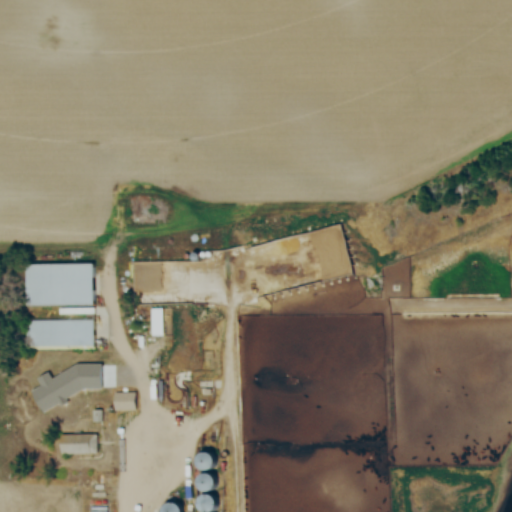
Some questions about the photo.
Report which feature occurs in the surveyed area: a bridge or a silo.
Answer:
silo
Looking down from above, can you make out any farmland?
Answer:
Yes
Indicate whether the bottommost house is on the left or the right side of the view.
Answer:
left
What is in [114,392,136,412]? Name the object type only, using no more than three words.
building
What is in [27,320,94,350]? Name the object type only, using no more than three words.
barn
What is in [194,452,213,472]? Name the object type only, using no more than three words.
silo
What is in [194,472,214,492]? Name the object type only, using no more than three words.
silo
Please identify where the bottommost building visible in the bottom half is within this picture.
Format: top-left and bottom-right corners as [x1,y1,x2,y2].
[59,434,98,456]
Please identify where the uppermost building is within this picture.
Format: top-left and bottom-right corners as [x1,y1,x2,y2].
[25,264,94,306]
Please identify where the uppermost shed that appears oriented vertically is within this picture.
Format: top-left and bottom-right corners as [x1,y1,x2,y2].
[150,308,164,337]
